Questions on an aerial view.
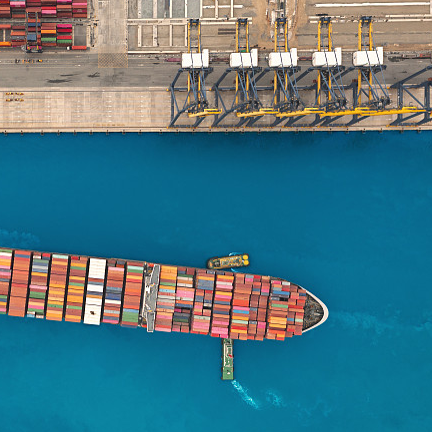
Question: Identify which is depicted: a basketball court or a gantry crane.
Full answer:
This aerial view contains a gantry crane.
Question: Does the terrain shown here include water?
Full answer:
Yes, the picture does contain water.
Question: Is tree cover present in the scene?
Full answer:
No, there's no tree cover in this view.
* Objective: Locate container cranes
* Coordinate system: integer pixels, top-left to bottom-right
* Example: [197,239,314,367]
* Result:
[314,16,423,127]
[165,16,226,128]
[383,52,432,127]
[241,16,327,128]
[279,16,377,128]
[206,16,281,128]
[25,11,42,54]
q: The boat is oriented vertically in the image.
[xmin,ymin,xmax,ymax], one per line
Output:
[221,337,234,380]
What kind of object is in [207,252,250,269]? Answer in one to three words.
boat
